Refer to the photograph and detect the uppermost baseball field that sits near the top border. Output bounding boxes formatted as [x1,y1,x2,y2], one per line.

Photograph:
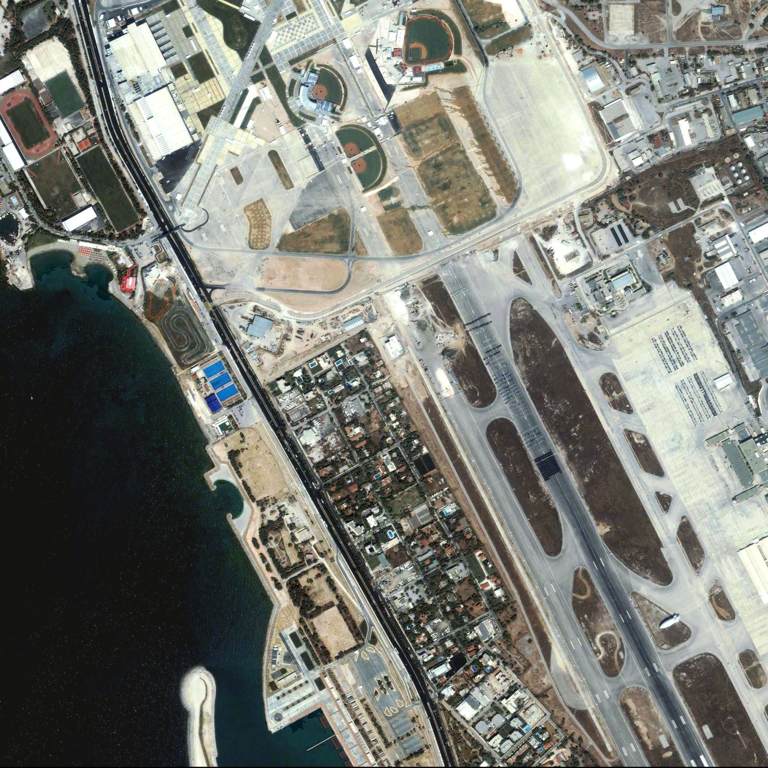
[404,15,455,67]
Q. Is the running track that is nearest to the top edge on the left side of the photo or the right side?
left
